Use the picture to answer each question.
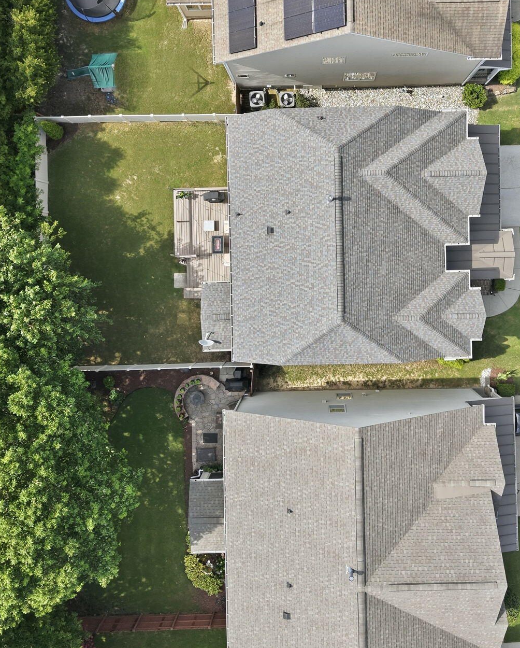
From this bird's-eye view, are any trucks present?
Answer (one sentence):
No, the picture doesn't show any truck.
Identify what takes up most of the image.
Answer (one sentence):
The scene is dominated by buildings.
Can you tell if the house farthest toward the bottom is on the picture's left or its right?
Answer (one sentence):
The house farthest toward the bottom sits on the right side.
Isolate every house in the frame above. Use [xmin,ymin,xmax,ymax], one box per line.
[173,107,517,366]
[167,0,514,90]
[189,386,520,648]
